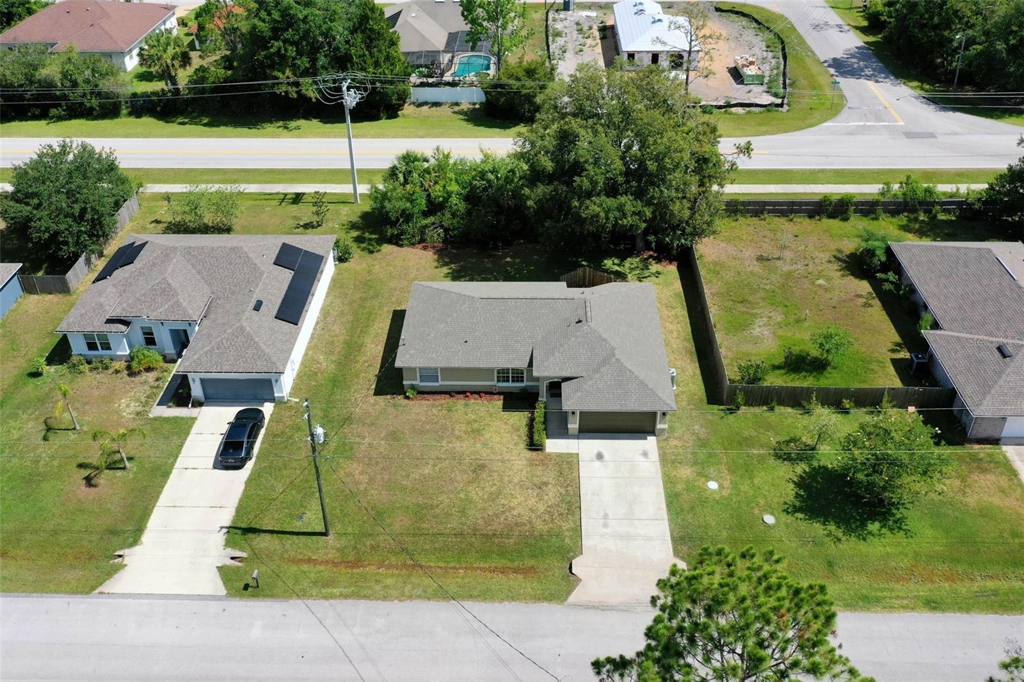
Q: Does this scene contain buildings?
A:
Yes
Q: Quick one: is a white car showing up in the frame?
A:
No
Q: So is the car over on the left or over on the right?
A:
left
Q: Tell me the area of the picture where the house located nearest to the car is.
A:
left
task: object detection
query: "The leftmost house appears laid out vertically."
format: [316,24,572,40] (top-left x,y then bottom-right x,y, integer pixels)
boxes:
[0,263,31,335]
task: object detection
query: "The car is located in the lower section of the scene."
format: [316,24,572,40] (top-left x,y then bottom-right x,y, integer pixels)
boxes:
[216,402,270,464]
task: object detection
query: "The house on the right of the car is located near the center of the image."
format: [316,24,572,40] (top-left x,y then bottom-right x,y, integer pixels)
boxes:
[395,281,676,435]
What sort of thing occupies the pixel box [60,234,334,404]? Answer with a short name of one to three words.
house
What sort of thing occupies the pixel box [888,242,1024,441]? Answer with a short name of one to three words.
house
